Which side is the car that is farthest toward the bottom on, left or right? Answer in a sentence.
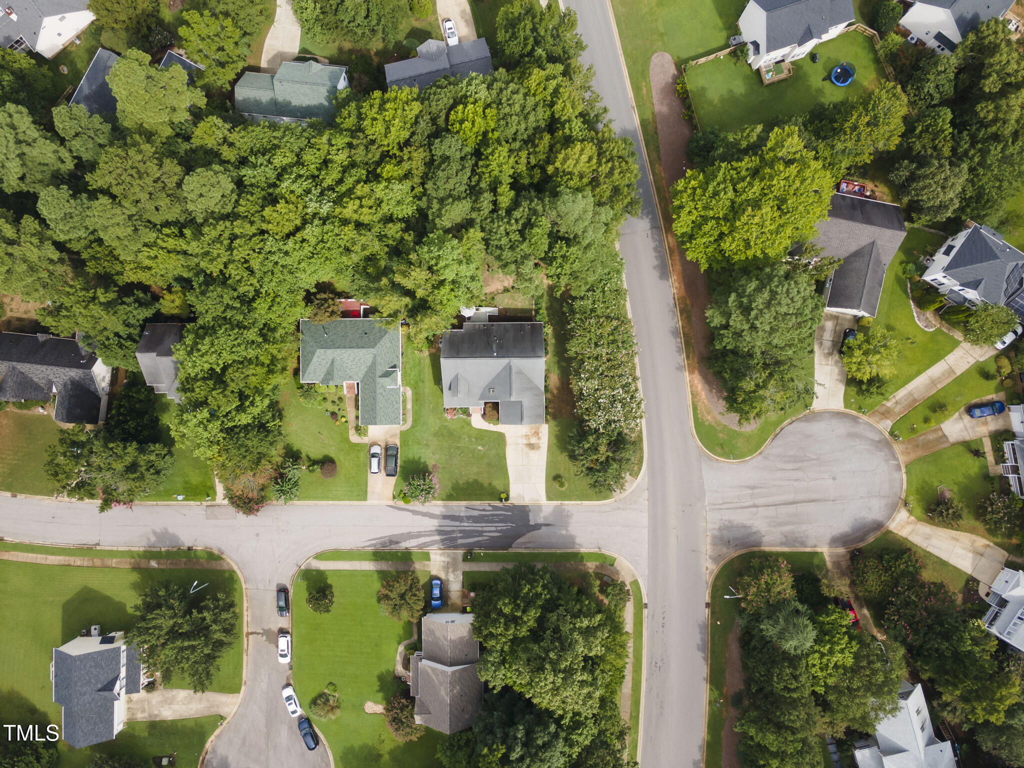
The car that is farthest toward the bottom sits on the left side.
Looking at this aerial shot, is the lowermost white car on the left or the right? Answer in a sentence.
It is on the left.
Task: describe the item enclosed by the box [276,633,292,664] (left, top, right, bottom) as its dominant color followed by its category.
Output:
white car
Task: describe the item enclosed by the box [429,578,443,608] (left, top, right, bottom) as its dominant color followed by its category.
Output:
blue car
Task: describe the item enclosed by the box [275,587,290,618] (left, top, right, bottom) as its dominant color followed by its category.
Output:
gray car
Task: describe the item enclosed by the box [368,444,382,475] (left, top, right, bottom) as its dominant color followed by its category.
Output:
white car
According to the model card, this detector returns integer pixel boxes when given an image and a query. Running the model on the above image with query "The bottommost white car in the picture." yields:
[282,685,302,718]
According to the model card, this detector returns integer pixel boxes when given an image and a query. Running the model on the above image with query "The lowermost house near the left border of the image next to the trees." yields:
[51,627,151,749]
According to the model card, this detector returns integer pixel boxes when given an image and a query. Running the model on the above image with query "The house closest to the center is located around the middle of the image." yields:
[440,322,545,425]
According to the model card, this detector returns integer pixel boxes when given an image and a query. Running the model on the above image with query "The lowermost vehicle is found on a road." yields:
[297,717,319,750]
